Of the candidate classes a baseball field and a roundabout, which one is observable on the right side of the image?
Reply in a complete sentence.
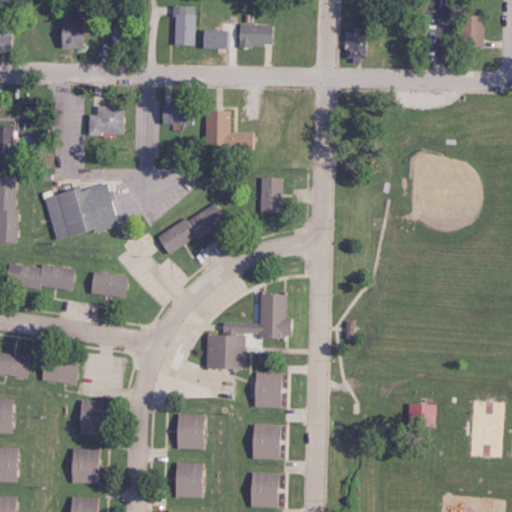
You can see a baseball field on the right side of the image.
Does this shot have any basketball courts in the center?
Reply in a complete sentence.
No, there is no basketball court in the center.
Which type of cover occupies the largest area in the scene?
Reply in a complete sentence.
For the most part, this view shows grass.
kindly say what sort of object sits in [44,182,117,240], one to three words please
building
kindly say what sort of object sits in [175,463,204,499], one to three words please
house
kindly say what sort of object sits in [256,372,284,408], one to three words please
house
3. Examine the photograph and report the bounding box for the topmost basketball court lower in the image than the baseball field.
[470,400,506,458]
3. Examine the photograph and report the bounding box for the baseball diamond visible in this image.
[403,150,484,232]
